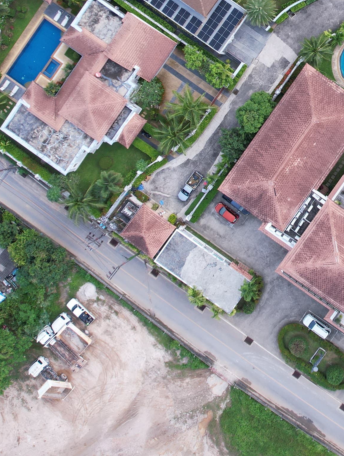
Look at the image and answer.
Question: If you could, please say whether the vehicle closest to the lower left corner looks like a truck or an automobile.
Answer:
truck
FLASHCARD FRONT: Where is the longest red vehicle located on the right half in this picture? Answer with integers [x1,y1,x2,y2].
[213,204,238,225]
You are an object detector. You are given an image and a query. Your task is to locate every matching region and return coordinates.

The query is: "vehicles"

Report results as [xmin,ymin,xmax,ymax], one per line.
[213,204,238,225]
[177,171,202,202]
[39,310,87,356]
[65,299,92,328]
[303,316,331,339]
[219,196,250,219]
[19,357,67,410]
[26,330,81,373]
